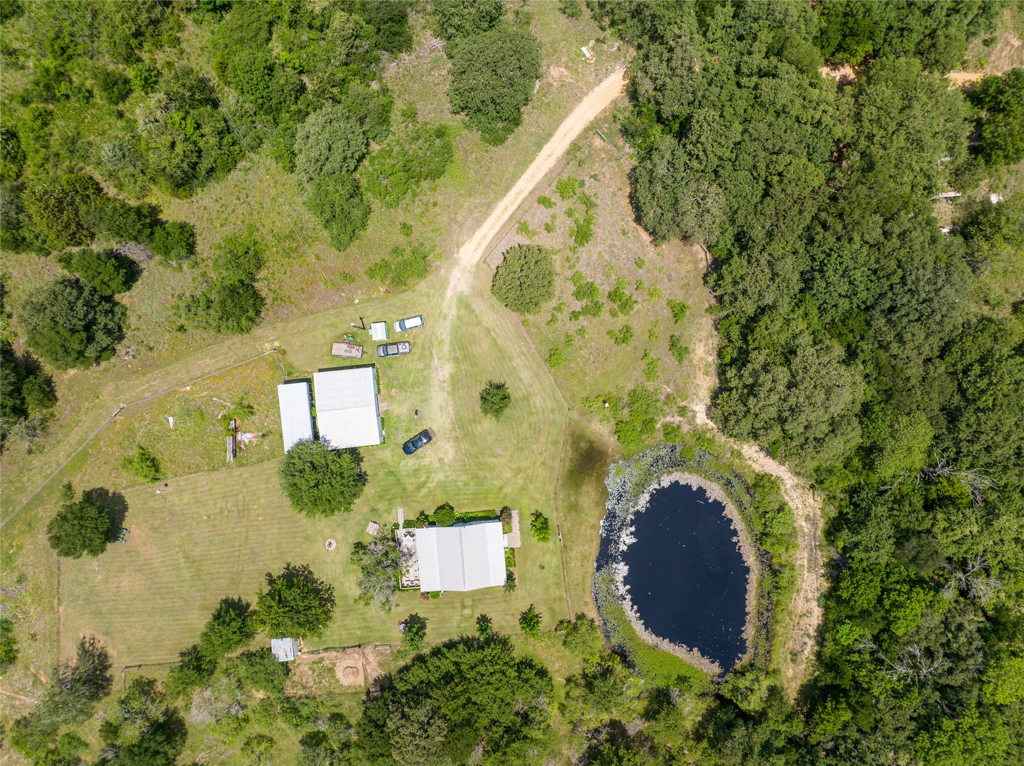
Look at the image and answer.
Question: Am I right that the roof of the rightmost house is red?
No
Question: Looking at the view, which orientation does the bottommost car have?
at an angle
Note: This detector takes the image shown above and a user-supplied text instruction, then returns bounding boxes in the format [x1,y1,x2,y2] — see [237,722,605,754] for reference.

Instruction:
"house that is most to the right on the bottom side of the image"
[415,521,506,592]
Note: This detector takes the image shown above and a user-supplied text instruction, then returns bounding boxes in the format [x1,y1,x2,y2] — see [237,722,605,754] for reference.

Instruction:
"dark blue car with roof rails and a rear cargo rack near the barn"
[403,427,438,455]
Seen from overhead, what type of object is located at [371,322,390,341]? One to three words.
shed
